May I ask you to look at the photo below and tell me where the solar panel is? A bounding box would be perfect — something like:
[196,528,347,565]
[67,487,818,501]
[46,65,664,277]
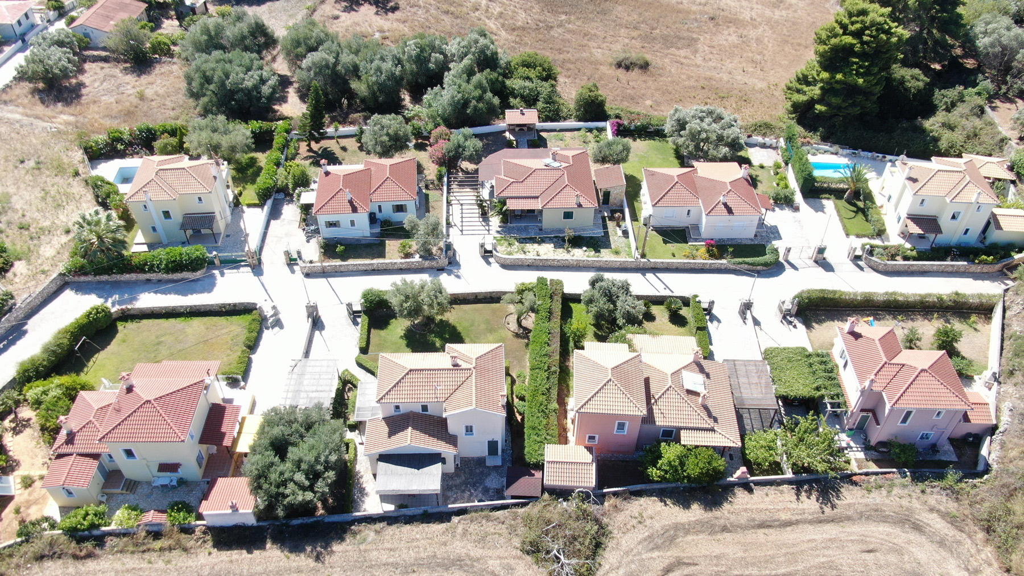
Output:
[683,370,705,392]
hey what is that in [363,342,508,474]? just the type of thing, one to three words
house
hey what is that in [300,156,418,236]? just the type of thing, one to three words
house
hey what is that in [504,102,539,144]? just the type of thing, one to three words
building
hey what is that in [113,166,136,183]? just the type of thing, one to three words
swimming pool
